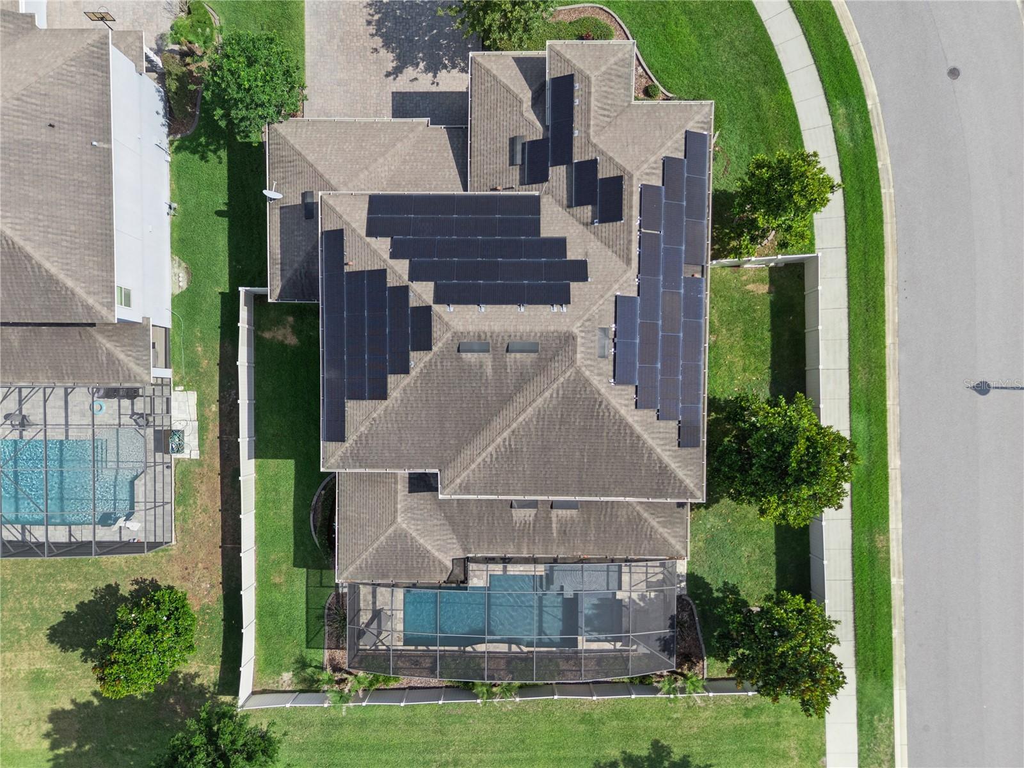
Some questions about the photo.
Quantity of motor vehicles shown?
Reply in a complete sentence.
The picture shows no motor vehicles.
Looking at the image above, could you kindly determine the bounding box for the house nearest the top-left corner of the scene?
[0,0,172,386]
